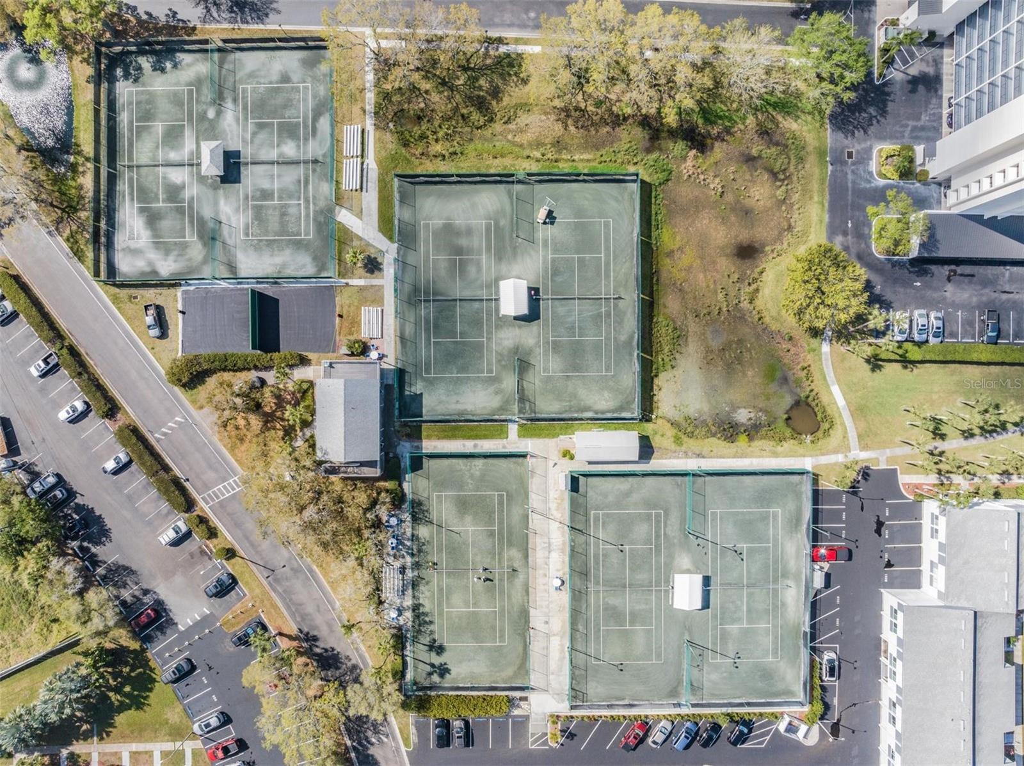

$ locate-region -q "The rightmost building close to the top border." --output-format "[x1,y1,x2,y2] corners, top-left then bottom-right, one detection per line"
[909,0,1024,218]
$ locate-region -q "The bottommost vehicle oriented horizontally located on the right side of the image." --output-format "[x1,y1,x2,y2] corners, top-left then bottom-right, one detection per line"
[813,547,851,563]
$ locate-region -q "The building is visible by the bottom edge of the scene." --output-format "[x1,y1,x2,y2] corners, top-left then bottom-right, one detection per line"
[877,502,1024,766]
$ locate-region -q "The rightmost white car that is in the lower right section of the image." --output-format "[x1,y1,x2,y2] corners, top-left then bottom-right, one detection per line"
[822,650,839,682]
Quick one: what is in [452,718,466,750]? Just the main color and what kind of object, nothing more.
gray vehicle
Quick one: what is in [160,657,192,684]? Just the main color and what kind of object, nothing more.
gray car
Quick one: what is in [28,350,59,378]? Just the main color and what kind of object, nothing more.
white truck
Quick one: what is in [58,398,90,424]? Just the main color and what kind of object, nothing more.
white car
